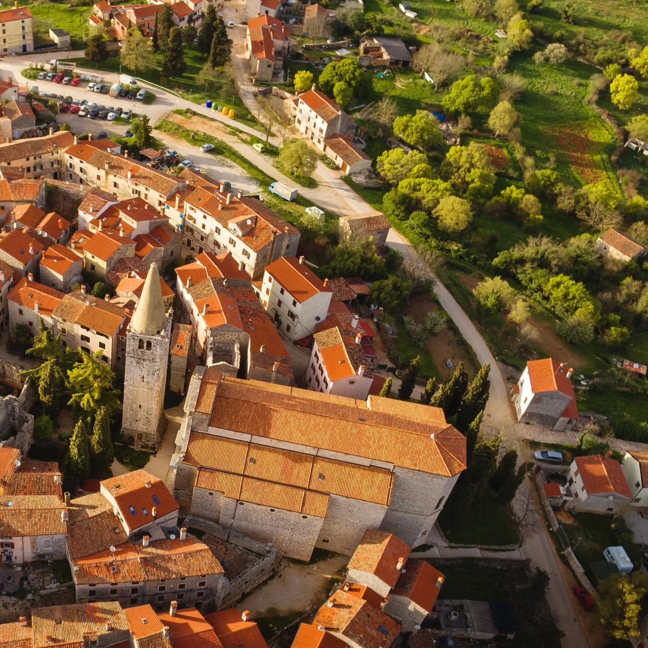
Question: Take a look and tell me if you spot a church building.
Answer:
Yes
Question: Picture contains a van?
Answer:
Yes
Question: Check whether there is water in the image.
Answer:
No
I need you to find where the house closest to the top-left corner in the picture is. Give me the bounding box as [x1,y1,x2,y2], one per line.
[0,0,33,58]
